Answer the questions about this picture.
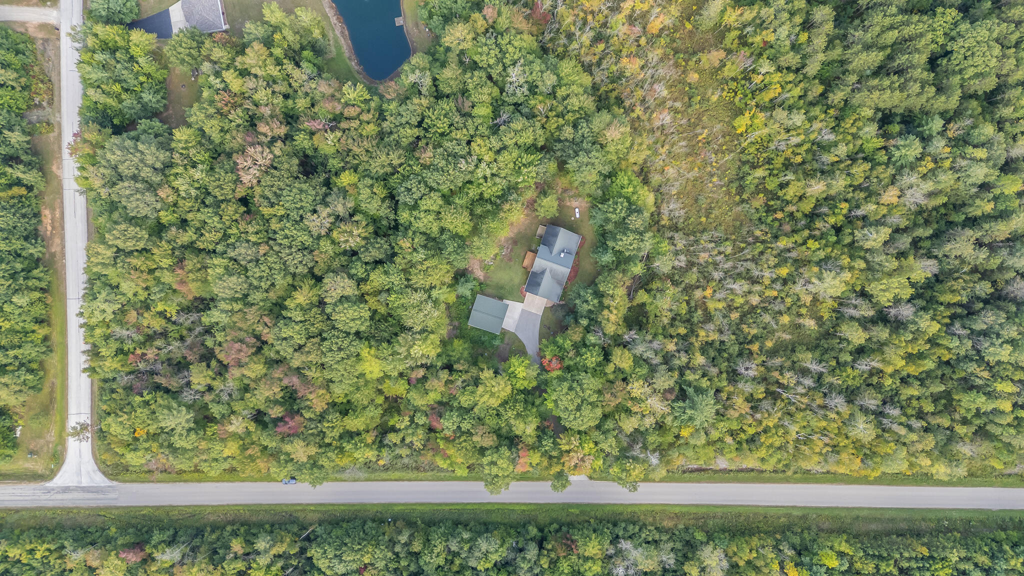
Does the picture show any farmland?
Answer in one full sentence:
No, there's no farmland in this view.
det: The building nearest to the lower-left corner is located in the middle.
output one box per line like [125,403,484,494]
[468,294,509,335]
